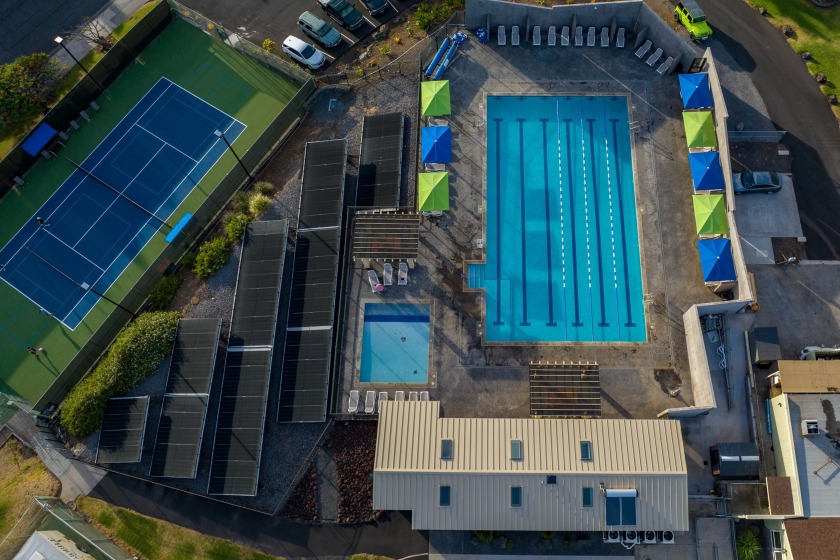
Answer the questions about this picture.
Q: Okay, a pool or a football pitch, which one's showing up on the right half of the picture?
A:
pool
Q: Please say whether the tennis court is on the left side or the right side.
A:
left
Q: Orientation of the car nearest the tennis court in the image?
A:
at an angle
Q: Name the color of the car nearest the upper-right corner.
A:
green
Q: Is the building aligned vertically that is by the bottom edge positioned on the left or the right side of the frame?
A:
right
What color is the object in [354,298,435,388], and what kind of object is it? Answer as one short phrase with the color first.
blue swimming pool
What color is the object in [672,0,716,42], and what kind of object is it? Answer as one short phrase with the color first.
green car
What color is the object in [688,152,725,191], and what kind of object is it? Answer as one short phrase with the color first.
blue umbrella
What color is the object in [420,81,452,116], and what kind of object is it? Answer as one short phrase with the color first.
green umbrella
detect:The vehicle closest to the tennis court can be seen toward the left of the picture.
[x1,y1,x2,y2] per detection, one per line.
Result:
[281,32,326,70]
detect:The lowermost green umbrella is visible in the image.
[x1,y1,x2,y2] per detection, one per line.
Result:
[692,193,730,235]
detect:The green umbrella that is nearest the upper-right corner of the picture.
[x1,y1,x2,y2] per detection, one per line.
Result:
[682,111,718,148]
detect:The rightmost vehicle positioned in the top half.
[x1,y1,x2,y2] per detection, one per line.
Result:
[733,167,792,195]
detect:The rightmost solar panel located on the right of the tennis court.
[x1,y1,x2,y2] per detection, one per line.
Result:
[354,112,405,208]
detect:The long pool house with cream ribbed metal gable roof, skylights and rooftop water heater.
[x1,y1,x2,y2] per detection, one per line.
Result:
[375,398,692,535]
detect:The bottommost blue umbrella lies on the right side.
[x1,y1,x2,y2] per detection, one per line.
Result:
[699,239,738,281]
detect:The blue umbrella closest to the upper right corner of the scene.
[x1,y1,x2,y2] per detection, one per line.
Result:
[679,74,713,109]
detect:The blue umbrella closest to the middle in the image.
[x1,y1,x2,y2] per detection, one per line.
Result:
[419,127,452,164]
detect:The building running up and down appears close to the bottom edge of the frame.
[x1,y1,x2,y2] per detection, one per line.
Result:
[744,361,840,560]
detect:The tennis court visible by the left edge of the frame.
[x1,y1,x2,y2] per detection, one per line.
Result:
[0,17,301,412]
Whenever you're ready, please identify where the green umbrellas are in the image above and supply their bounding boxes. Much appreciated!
[692,193,730,235]
[417,172,449,211]
[682,111,718,148]
[420,81,452,116]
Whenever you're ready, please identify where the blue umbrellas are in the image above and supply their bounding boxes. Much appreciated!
[688,152,725,191]
[679,74,713,109]
[419,127,452,164]
[699,239,738,281]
